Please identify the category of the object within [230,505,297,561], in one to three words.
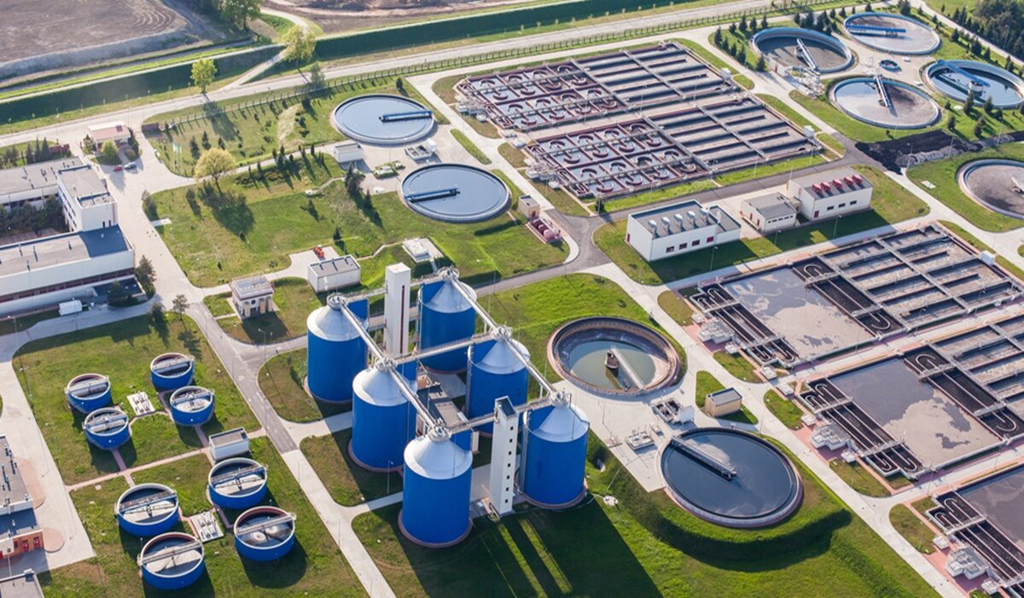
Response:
storage tank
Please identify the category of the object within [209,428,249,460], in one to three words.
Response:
shed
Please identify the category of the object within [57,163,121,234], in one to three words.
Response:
building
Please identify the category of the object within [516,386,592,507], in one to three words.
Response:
silo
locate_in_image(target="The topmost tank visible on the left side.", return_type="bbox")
[331,94,437,147]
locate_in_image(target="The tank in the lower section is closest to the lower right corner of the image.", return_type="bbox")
[655,431,805,533]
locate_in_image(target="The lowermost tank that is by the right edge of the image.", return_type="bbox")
[955,157,1024,226]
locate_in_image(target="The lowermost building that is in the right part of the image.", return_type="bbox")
[931,549,987,586]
